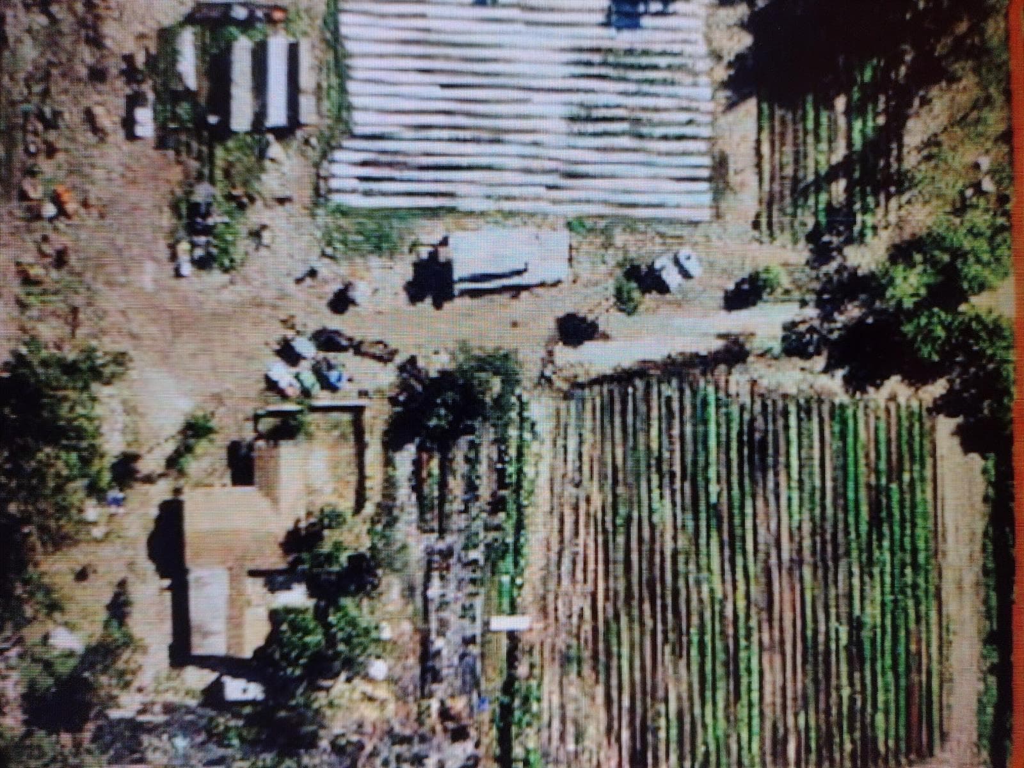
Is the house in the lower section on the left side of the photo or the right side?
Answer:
left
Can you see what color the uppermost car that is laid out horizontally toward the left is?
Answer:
black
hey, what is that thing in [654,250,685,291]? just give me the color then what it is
white car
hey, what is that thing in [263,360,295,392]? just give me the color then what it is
white car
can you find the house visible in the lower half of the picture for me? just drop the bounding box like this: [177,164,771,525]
[182,442,306,658]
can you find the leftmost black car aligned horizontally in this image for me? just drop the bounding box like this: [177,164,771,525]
[311,329,349,350]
